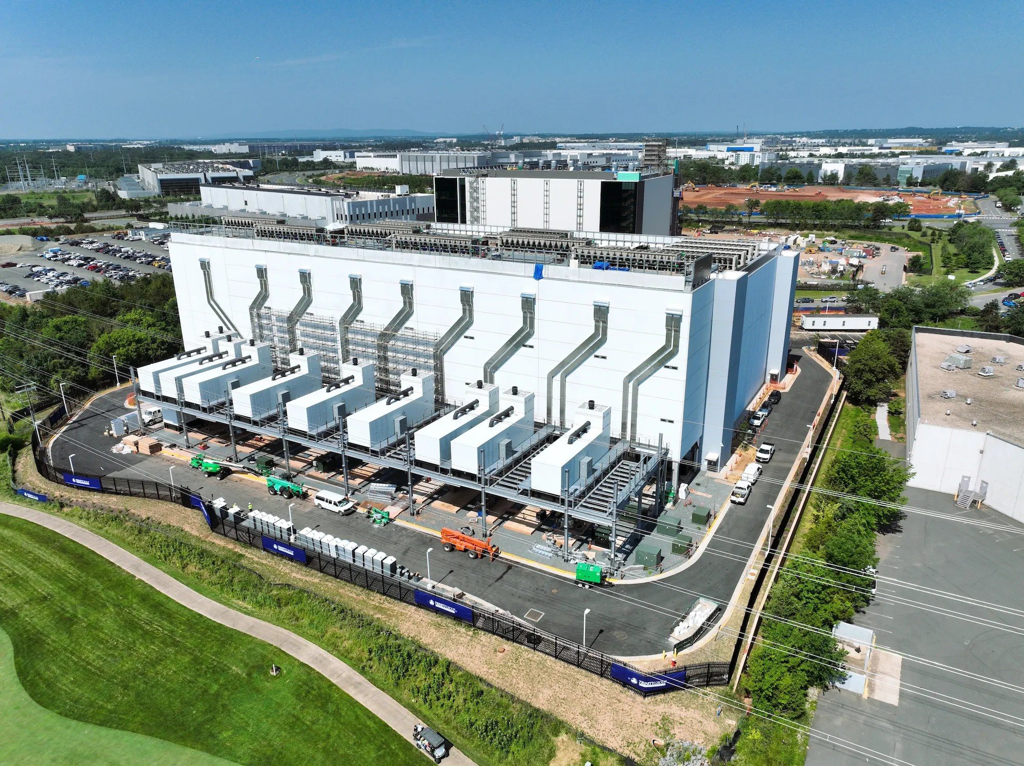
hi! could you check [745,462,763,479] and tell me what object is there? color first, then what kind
white car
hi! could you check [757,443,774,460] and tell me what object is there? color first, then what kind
white vehicle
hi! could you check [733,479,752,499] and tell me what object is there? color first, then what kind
white vehicle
